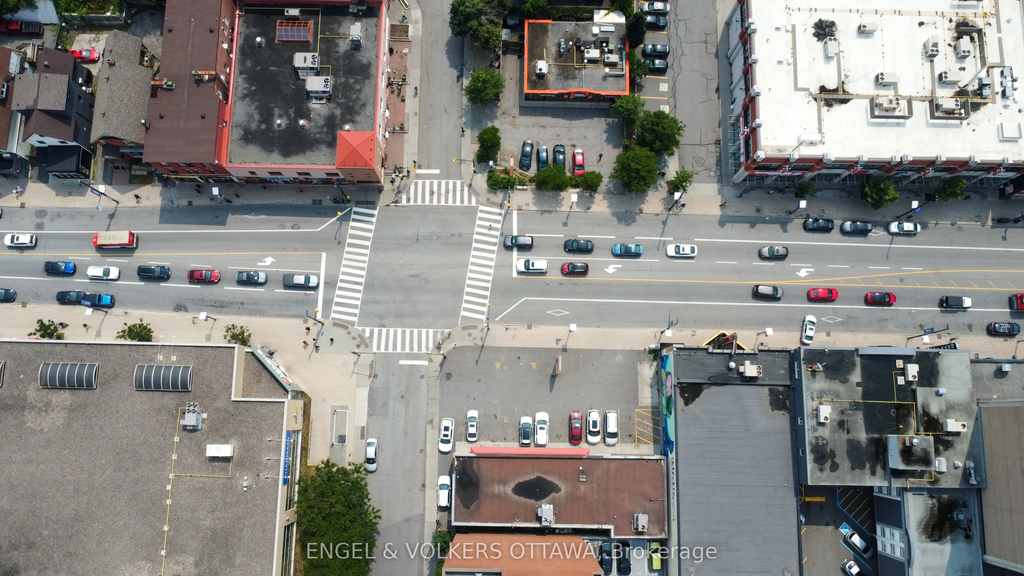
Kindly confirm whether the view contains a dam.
No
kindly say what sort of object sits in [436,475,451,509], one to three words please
car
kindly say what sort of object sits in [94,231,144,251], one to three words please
vehicle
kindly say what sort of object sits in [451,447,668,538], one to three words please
building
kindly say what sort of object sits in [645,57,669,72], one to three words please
car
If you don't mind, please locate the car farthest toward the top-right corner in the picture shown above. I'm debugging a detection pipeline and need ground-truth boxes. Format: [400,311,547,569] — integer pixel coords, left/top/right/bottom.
[886,221,922,236]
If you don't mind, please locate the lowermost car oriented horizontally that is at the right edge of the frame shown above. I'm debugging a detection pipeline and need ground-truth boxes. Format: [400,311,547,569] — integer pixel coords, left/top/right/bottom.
[987,321,1021,336]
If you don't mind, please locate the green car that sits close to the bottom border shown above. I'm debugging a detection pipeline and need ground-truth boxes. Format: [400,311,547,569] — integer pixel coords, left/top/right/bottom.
[649,541,664,571]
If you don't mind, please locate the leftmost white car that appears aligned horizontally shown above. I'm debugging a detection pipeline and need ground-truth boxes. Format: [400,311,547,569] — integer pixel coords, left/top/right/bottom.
[3,232,39,248]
